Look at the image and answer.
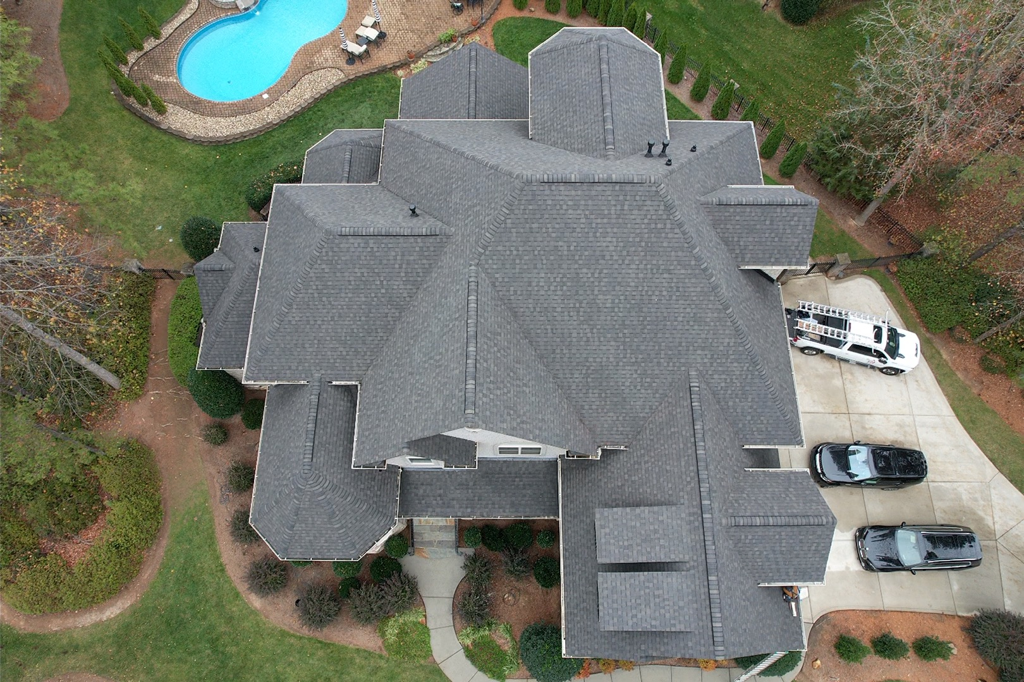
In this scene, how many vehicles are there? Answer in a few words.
3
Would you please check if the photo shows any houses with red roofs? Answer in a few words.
No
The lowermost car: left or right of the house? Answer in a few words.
on the right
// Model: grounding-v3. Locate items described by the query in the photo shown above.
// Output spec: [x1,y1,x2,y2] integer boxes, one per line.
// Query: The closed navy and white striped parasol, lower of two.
[340,26,356,64]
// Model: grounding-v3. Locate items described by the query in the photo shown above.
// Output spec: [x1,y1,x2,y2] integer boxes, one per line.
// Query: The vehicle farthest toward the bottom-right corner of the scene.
[852,517,983,578]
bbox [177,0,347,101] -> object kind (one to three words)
swimming pool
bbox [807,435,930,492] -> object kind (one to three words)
car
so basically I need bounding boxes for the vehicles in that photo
[852,517,983,578]
[776,296,918,376]
[807,435,930,492]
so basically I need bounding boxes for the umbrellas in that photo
[340,26,356,64]
[374,0,387,40]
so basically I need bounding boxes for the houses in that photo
[192,25,837,659]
